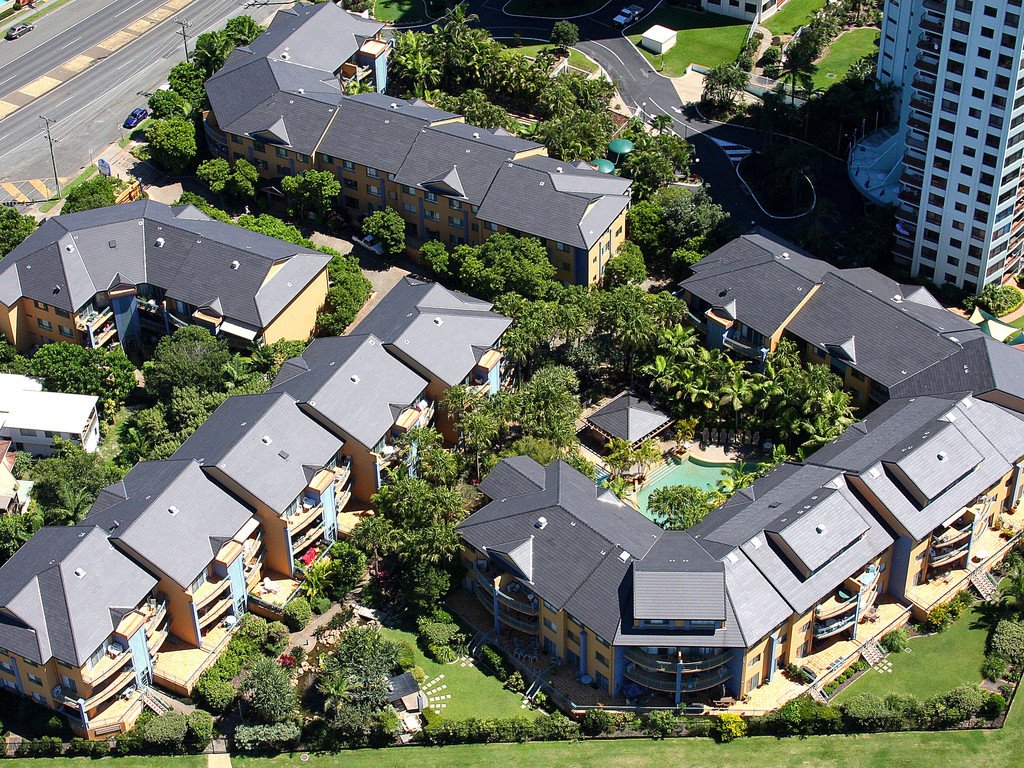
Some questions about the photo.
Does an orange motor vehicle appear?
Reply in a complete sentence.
No, the frame has no orange motor vehicle in it.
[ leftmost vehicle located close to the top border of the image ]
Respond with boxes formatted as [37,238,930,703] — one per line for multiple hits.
[6,24,31,38]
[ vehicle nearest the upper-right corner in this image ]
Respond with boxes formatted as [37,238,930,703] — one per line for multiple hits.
[614,6,641,22]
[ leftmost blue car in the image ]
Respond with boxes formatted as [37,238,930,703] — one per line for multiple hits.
[122,110,147,126]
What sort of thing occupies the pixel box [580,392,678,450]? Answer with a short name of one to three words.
gazebo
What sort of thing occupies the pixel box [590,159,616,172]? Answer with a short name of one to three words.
umbrella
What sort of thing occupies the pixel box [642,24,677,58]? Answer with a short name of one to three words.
shed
